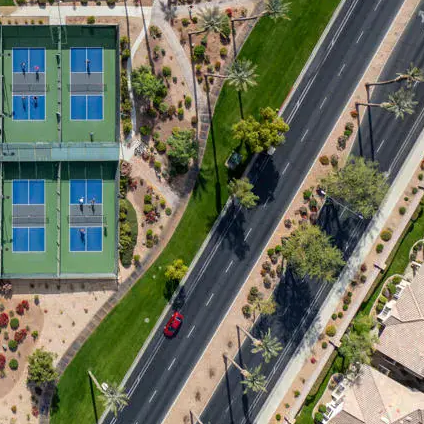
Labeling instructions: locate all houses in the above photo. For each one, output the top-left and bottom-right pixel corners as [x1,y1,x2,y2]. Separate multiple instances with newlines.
[342,362,424,424]
[373,262,424,375]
